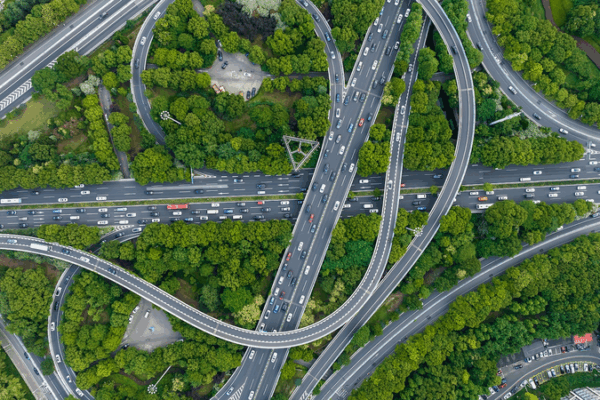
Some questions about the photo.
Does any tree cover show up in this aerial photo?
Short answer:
Yes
